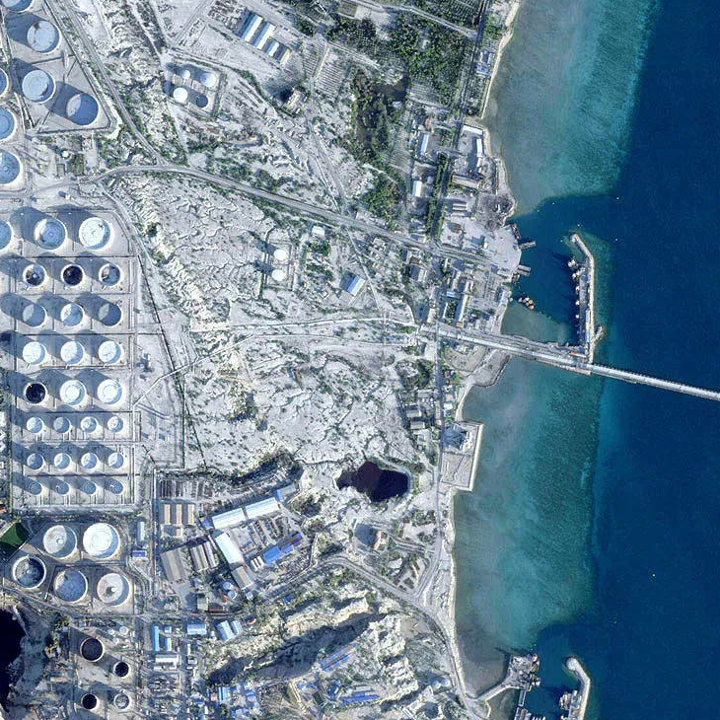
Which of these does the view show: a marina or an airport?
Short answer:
marina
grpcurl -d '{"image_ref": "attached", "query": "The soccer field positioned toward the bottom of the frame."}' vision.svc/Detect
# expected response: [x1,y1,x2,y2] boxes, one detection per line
[0,522,30,556]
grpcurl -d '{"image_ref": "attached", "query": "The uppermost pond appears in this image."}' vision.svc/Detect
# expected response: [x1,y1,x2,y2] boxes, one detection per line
[336,461,409,503]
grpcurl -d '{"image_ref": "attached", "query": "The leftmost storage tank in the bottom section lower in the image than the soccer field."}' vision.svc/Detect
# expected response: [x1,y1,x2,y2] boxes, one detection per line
[12,556,46,593]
